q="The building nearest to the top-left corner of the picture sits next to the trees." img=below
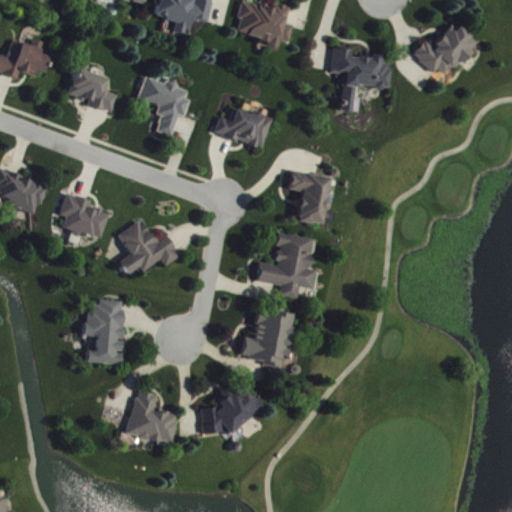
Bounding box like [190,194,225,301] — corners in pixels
[0,39,52,82]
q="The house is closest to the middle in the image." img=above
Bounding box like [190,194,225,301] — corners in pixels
[256,233,318,296]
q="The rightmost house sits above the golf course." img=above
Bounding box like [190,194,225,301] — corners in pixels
[410,24,480,74]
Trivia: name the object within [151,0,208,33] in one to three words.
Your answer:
house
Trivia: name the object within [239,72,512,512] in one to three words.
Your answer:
golf course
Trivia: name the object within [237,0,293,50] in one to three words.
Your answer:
house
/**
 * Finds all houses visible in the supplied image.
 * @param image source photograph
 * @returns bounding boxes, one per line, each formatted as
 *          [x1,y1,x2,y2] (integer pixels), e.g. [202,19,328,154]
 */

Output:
[212,106,272,148]
[64,68,118,112]
[410,24,480,74]
[116,218,179,276]
[0,39,52,82]
[0,170,48,214]
[256,233,318,296]
[126,391,180,446]
[240,314,296,368]
[280,170,335,225]
[58,192,112,239]
[138,75,191,133]
[326,46,394,111]
[86,297,126,364]
[195,392,262,437]
[151,0,208,33]
[237,0,293,50]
